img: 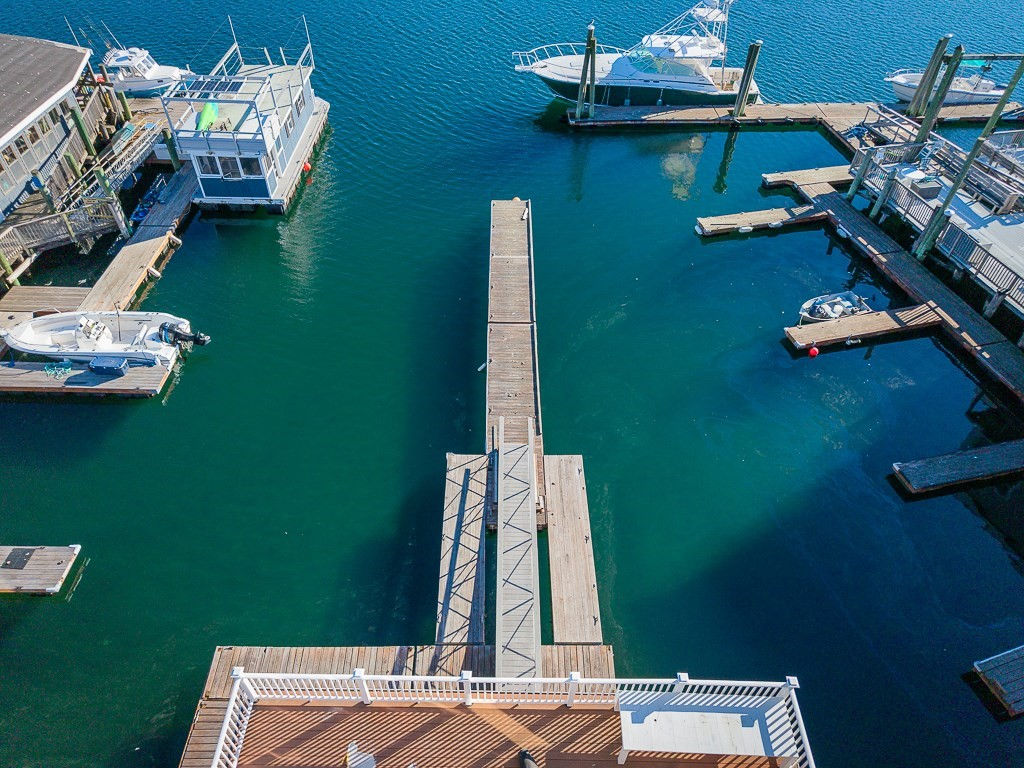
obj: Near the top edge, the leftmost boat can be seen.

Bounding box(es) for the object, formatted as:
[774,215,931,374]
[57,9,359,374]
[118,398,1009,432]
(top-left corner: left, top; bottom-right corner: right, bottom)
[65,20,199,111]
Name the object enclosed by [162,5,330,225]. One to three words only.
boat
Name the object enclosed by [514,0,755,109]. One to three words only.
boat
